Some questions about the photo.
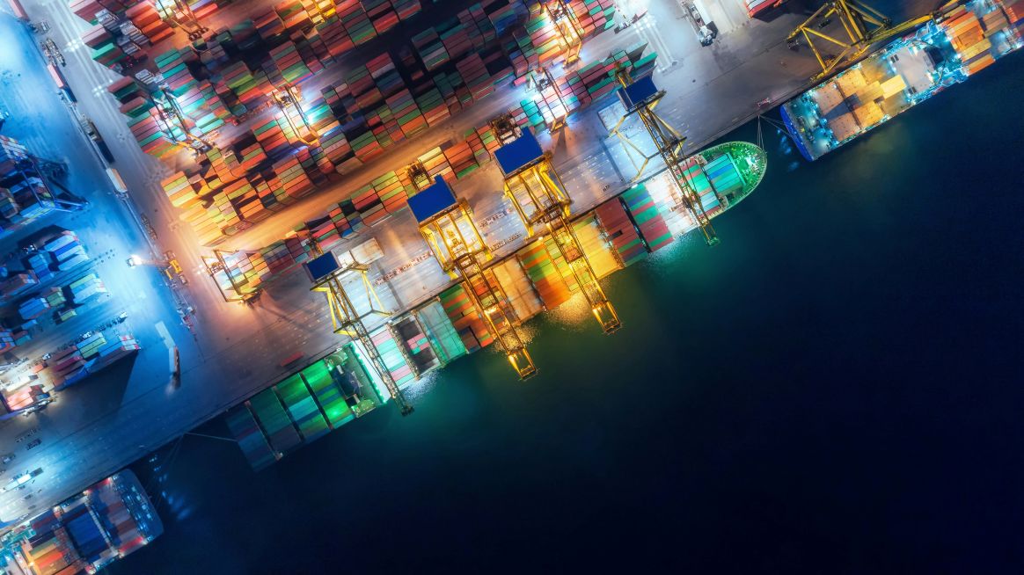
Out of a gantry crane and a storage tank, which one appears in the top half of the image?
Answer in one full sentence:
Looking in the top half of the image, you will find a gantry crane.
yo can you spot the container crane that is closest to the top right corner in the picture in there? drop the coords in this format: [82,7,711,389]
[781,0,949,86]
